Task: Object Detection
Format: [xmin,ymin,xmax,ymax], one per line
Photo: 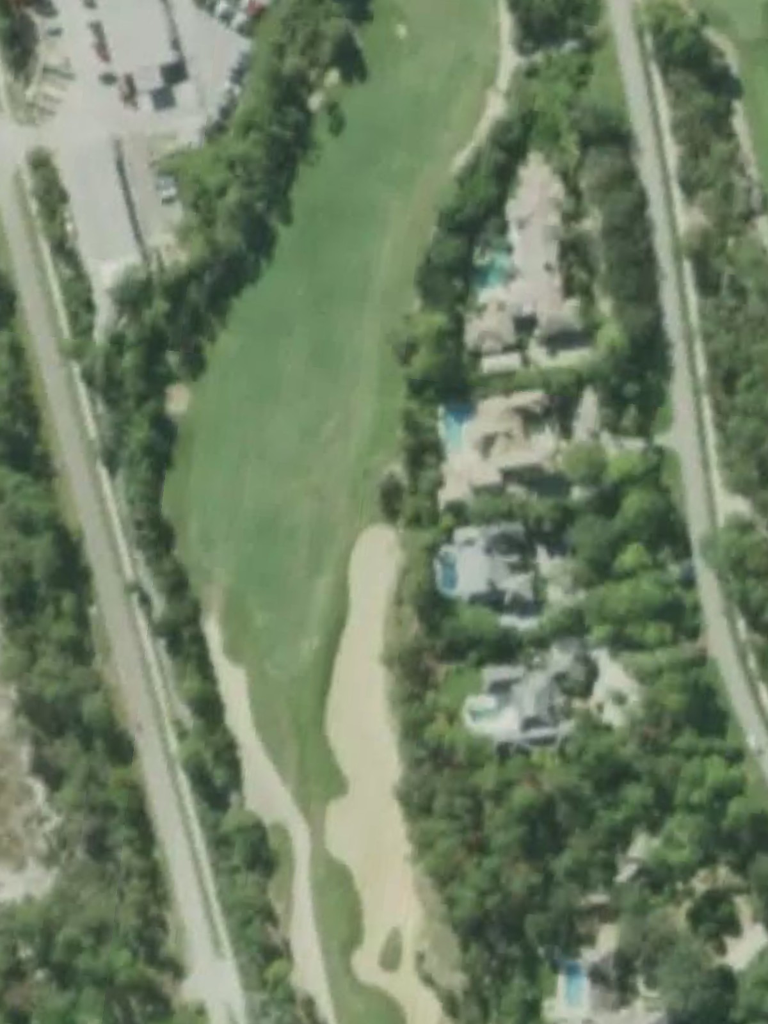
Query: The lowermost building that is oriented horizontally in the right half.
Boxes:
[583,893,612,907]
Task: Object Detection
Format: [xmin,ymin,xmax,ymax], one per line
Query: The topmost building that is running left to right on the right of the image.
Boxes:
[481,352,522,373]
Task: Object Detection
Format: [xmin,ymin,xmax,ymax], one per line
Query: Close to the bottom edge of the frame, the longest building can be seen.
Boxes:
[590,923,621,1013]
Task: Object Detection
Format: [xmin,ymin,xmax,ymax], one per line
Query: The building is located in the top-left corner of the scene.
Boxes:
[102,0,174,88]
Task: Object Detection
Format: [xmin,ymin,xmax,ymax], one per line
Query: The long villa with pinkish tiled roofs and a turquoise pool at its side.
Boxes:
[465,150,586,355]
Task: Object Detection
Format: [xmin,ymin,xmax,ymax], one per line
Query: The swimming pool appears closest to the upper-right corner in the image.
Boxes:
[473,247,513,288]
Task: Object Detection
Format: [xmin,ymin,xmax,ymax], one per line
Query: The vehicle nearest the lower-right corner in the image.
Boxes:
[746,727,761,748]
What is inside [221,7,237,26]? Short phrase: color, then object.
gray car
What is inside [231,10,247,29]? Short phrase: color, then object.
white car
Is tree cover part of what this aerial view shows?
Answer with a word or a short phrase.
Yes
